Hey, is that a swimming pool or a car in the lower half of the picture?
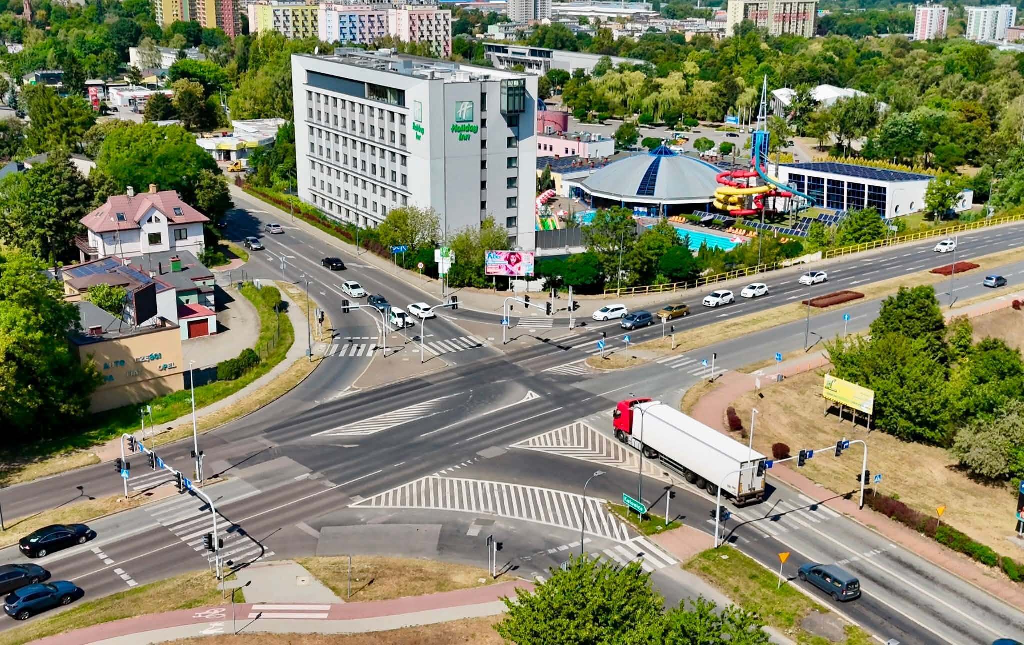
car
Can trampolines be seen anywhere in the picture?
No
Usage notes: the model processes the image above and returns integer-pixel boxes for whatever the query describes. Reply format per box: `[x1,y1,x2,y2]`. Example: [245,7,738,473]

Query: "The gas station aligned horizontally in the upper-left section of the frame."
[110,91,176,113]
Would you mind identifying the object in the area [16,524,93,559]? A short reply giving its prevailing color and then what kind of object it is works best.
black car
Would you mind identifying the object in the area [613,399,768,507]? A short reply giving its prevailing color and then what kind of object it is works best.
white truck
